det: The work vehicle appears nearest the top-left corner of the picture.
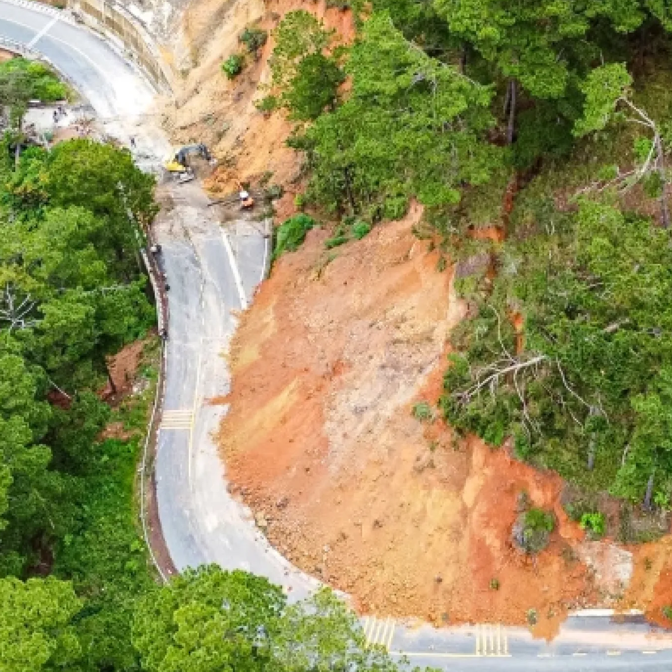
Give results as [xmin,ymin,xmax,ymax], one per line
[163,149,217,182]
